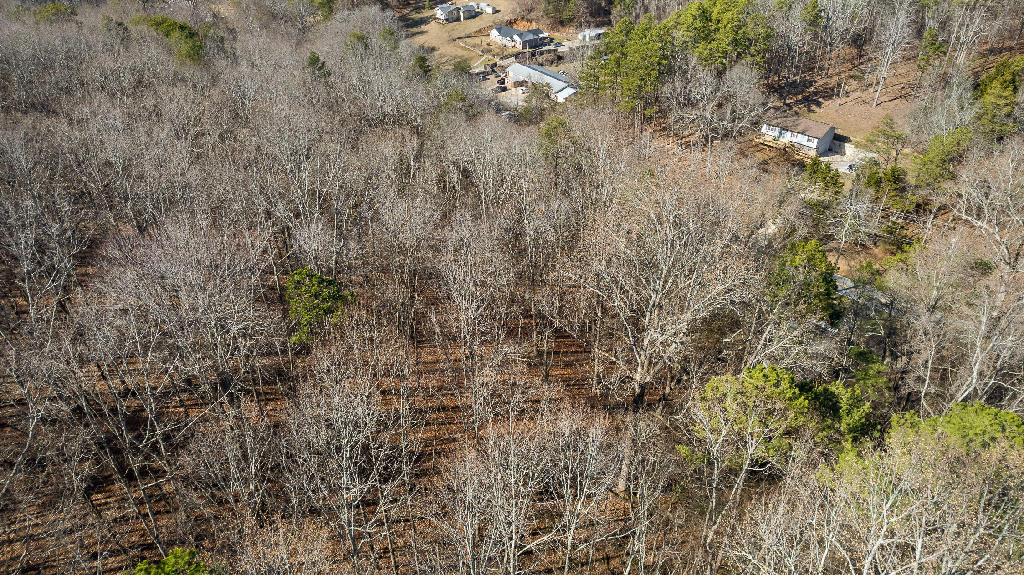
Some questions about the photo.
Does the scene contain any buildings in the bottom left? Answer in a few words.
No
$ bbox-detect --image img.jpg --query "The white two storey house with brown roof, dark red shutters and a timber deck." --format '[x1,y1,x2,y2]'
[760,112,839,155]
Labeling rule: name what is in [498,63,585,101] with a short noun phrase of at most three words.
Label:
building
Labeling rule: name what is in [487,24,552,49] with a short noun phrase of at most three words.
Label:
house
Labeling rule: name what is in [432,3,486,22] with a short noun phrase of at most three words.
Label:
house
